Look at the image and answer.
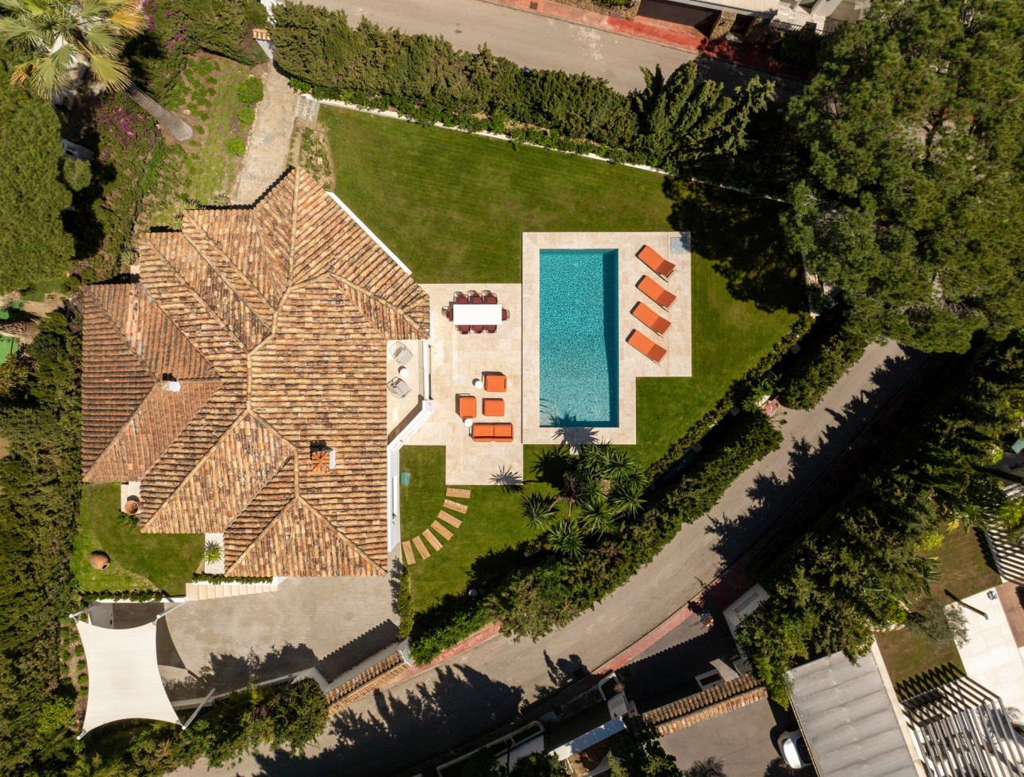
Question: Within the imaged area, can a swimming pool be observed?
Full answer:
Yes, there's a swimming pool here.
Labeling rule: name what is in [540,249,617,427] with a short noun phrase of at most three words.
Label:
swimming pool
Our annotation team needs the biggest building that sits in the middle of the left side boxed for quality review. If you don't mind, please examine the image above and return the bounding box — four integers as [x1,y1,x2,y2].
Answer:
[78,165,432,580]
